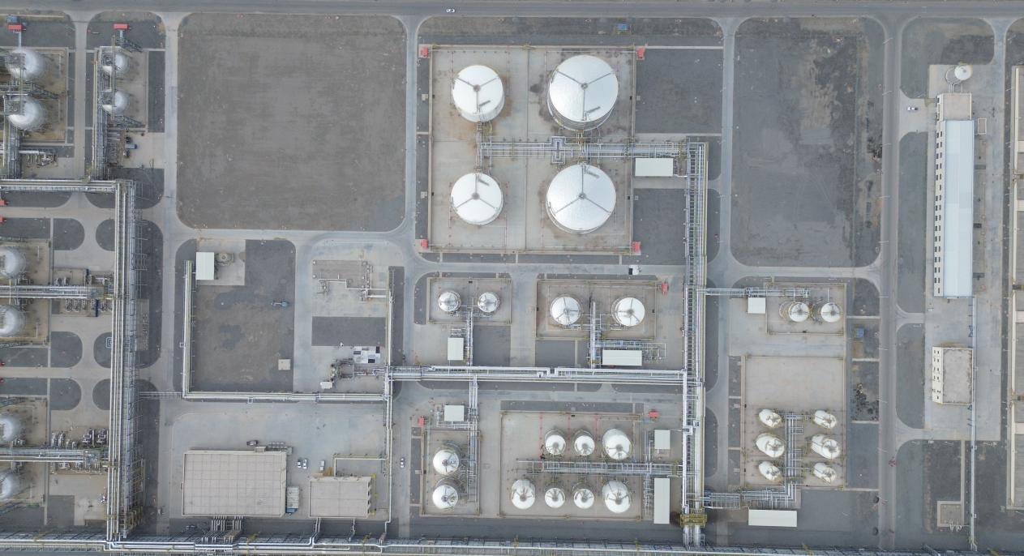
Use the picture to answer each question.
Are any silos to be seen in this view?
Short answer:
Yes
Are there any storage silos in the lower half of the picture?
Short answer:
Yes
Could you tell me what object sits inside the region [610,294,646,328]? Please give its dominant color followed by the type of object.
white storage tank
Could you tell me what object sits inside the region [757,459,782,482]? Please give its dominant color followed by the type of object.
white silo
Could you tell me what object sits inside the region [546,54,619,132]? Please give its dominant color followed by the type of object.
white storage tank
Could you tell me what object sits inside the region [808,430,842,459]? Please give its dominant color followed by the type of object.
white silo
